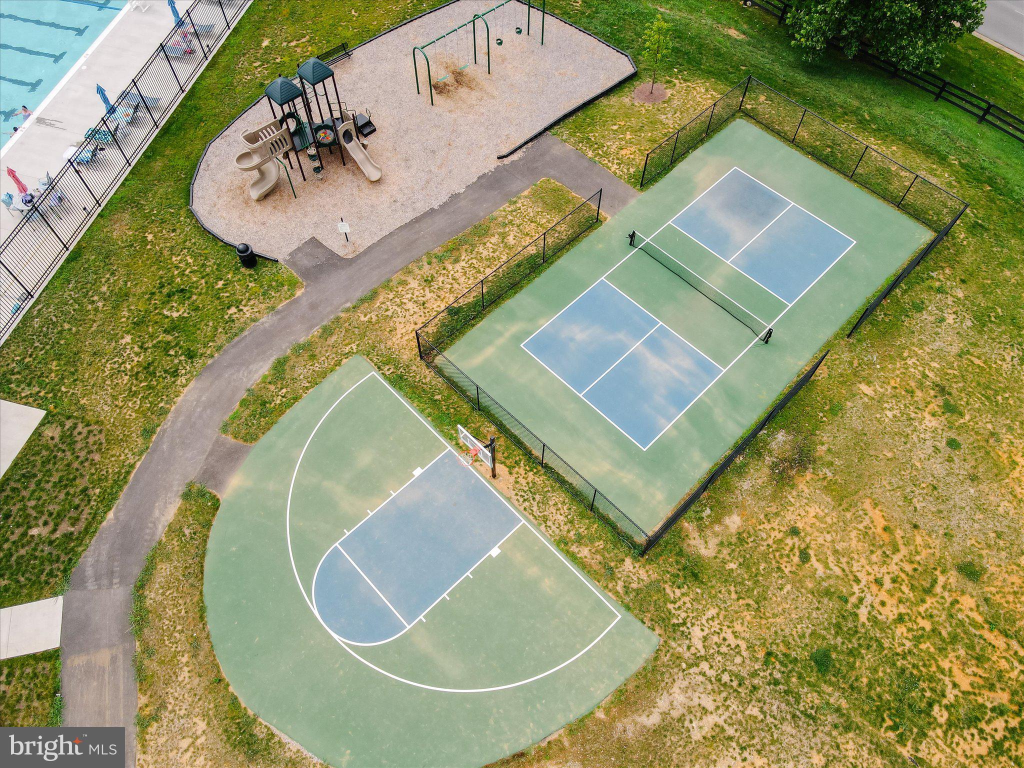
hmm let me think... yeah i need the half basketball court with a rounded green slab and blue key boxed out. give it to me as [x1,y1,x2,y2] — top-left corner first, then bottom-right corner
[204,355,659,768]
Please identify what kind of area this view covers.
sports ground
